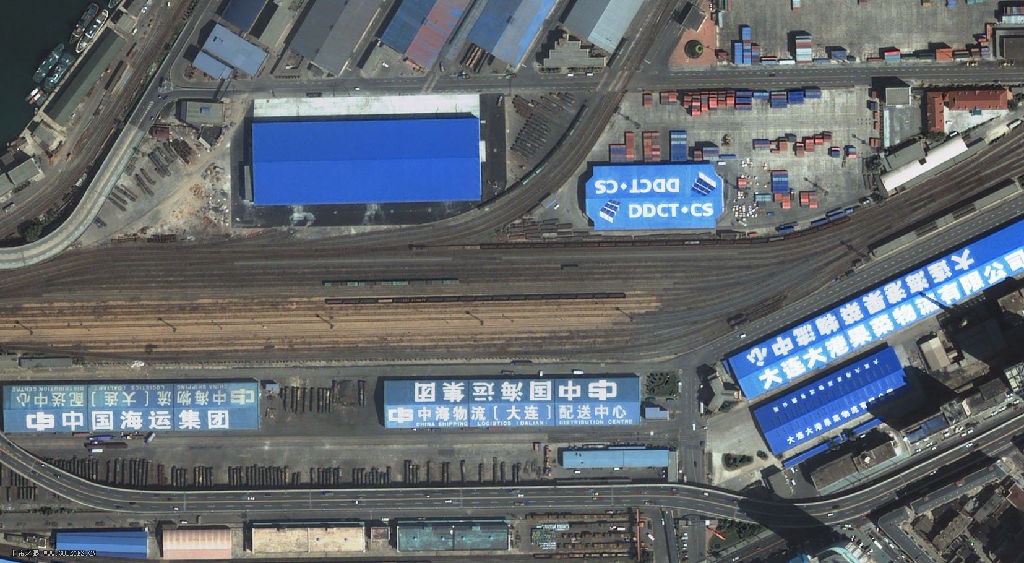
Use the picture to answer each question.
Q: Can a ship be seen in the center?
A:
No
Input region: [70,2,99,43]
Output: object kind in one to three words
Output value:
ship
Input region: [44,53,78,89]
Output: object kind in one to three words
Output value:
ship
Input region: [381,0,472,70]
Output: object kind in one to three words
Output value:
building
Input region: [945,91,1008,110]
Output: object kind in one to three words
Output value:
house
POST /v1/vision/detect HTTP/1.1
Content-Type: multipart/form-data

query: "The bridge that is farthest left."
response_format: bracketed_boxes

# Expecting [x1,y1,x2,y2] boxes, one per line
[0,100,160,269]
